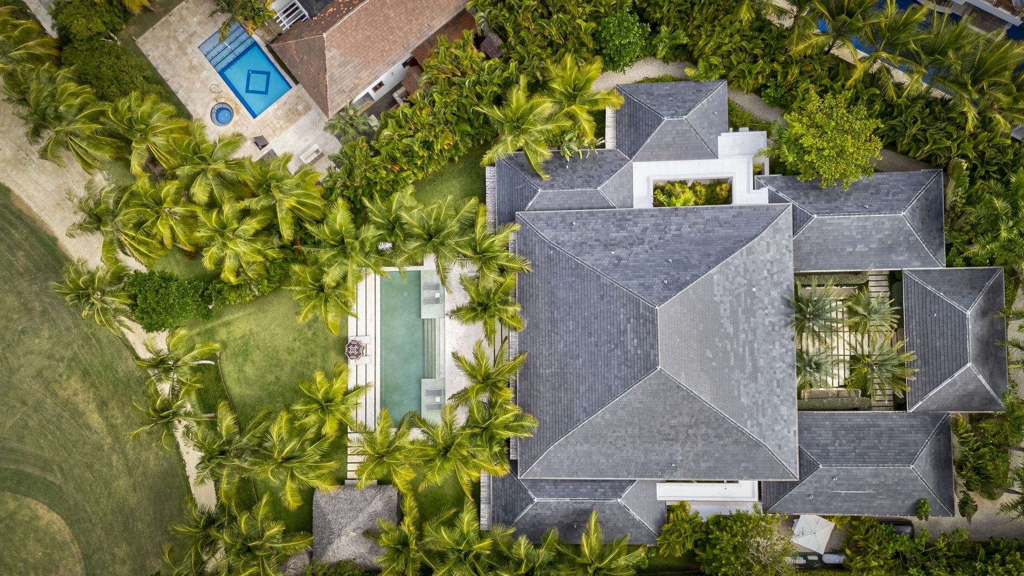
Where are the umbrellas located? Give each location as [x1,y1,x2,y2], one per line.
[791,515,835,554]
[345,341,363,359]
